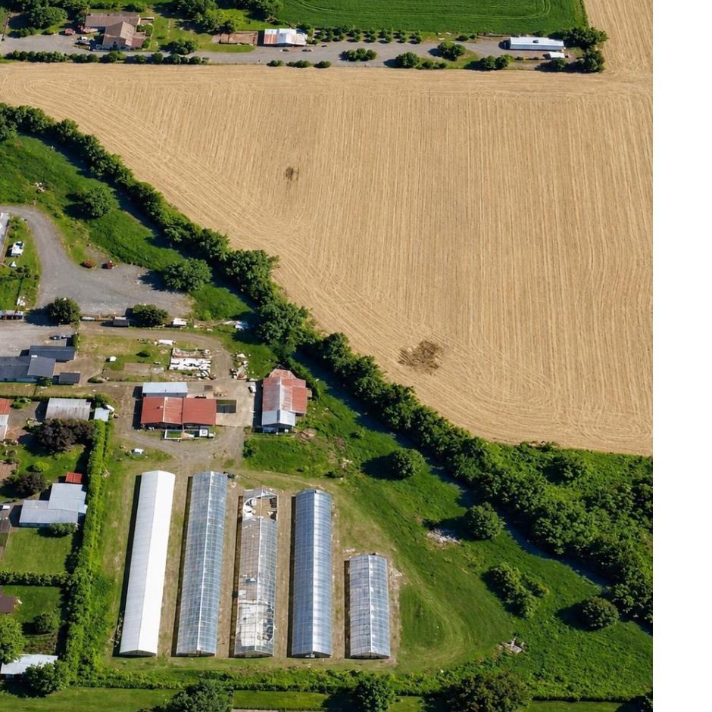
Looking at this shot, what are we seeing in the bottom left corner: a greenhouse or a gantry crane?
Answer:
greenhouse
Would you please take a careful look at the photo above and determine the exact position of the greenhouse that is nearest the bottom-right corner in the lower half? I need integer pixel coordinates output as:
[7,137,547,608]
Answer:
[349,554,390,661]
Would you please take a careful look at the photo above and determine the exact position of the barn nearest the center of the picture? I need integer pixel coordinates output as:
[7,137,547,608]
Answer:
[263,369,306,435]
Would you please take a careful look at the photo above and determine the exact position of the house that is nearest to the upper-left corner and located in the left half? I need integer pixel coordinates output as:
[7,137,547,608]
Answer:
[85,11,143,54]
